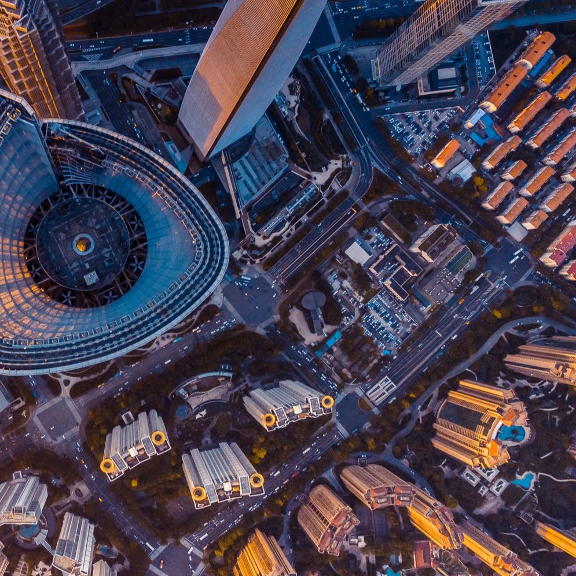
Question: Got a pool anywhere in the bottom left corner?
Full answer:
Yes, a pool shows up in the bottom left corner.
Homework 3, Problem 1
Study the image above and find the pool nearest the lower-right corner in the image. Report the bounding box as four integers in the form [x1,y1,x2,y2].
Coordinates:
[507,471,536,492]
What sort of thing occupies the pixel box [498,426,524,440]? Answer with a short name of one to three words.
swimming pool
